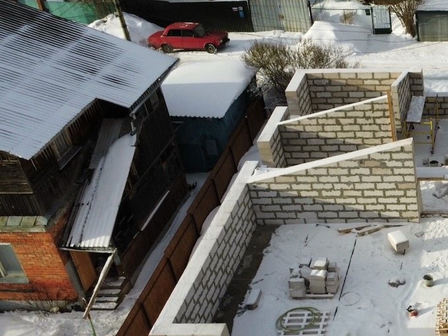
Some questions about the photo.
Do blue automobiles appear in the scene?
No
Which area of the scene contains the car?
top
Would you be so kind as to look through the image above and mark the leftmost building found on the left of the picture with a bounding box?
[0,0,194,316]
